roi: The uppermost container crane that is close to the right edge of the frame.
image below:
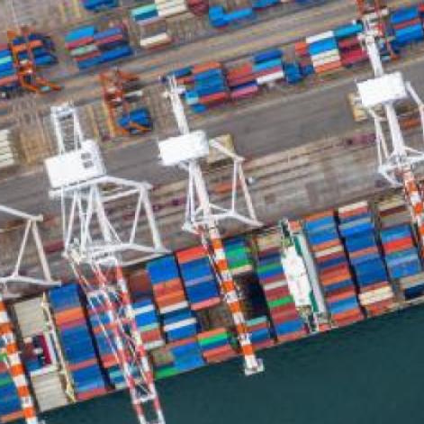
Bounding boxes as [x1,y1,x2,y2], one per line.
[358,0,409,66]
